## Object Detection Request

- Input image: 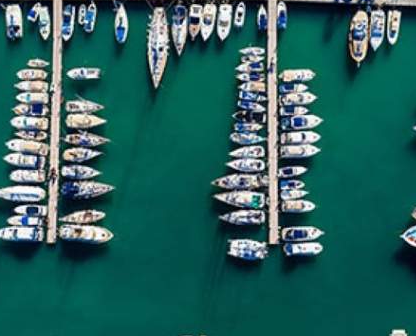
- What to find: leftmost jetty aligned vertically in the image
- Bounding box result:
[47,0,63,244]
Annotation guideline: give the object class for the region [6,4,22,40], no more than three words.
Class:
boat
